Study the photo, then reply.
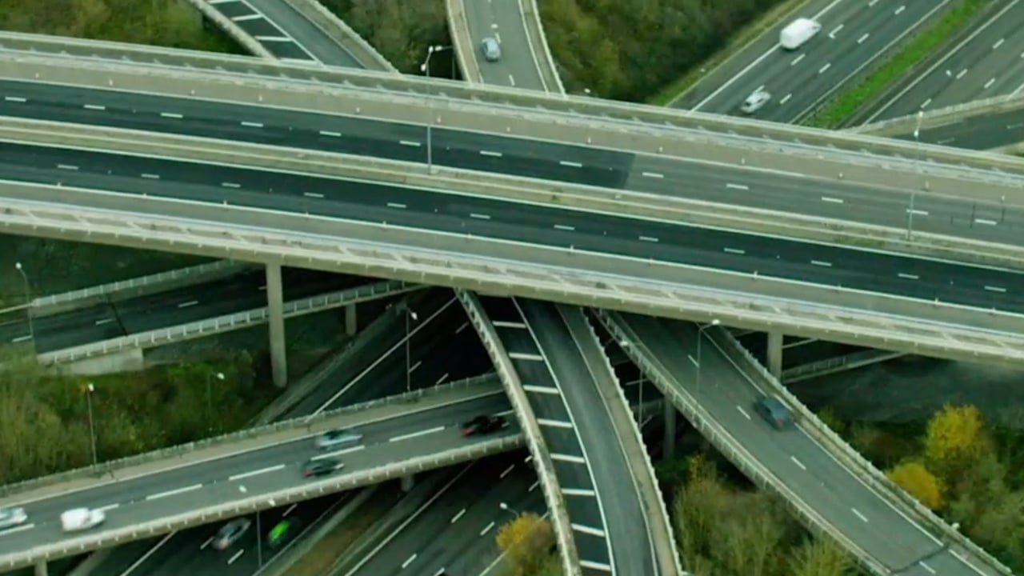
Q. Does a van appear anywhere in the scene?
Yes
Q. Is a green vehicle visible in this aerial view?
Yes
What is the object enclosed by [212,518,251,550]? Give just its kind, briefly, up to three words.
car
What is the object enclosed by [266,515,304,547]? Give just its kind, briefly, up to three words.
car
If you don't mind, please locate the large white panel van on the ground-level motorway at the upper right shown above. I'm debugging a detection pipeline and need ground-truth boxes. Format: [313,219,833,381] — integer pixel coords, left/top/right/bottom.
[781,20,820,52]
